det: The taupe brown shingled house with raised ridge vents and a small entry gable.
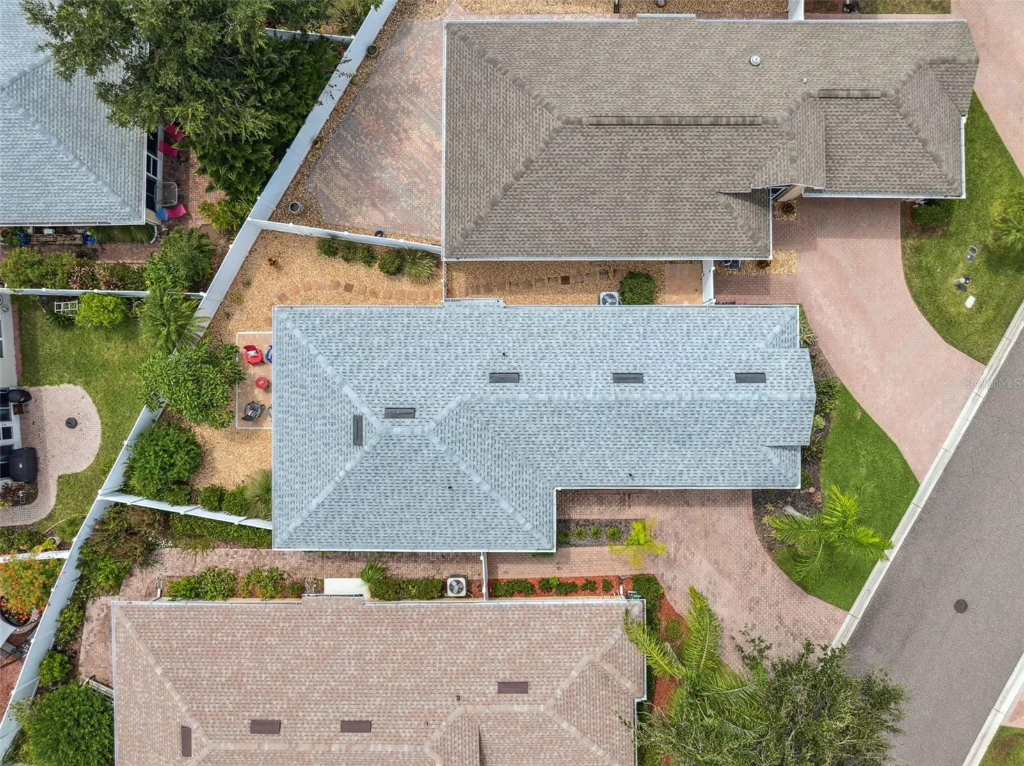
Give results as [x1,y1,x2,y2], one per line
[443,14,981,259]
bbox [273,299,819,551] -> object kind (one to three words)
house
